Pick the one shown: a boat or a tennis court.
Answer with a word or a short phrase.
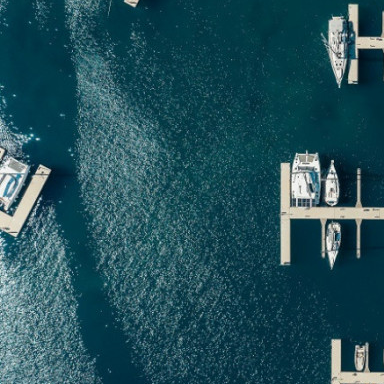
boat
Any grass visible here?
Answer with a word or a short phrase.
No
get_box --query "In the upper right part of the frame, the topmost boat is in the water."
[321,15,351,89]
